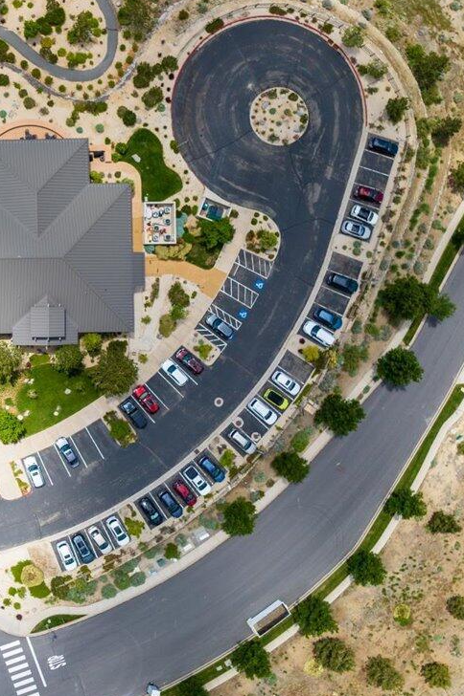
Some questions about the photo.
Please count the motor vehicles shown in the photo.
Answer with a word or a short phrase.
27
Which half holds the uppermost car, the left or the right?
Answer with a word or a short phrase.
right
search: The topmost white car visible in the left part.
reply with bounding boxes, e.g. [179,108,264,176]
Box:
[161,358,191,387]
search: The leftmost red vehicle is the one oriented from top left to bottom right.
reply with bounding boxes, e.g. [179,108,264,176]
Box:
[133,384,160,415]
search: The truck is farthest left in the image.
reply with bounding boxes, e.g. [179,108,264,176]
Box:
[22,454,45,491]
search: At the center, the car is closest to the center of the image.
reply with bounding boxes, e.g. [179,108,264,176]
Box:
[202,313,236,341]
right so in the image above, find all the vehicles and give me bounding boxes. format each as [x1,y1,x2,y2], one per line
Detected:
[352,184,383,204]
[227,427,257,456]
[270,368,301,397]
[22,454,45,491]
[338,219,372,240]
[138,495,164,526]
[171,477,199,509]
[88,524,112,556]
[246,396,278,425]
[174,347,206,375]
[261,386,290,411]
[55,539,79,573]
[202,313,236,341]
[133,384,160,415]
[347,203,381,226]
[155,488,184,520]
[161,358,191,387]
[106,514,130,549]
[118,395,149,431]
[55,436,82,470]
[325,272,360,295]
[72,532,97,566]
[365,136,400,156]
[182,465,211,495]
[300,320,338,348]
[311,306,345,331]
[198,454,227,484]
